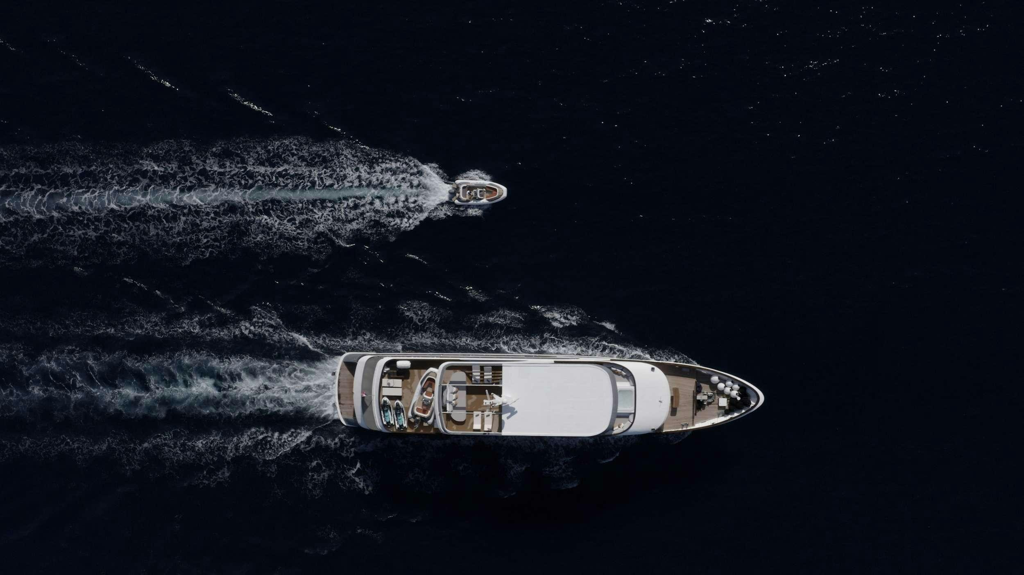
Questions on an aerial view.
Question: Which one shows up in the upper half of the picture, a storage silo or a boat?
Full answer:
Looking in the upper half of the picture, you will find a boat.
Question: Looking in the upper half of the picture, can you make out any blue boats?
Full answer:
No, the scene shows no blue boat in the upper half of the picture.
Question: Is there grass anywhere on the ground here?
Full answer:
No, the picture contains no grass.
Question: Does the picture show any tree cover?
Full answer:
No, there is no tree cover in the image.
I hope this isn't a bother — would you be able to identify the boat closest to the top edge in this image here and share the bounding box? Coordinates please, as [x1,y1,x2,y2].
[449,180,507,205]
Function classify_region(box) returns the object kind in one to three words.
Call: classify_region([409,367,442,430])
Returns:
boat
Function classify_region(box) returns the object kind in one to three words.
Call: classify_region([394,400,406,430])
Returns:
boat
